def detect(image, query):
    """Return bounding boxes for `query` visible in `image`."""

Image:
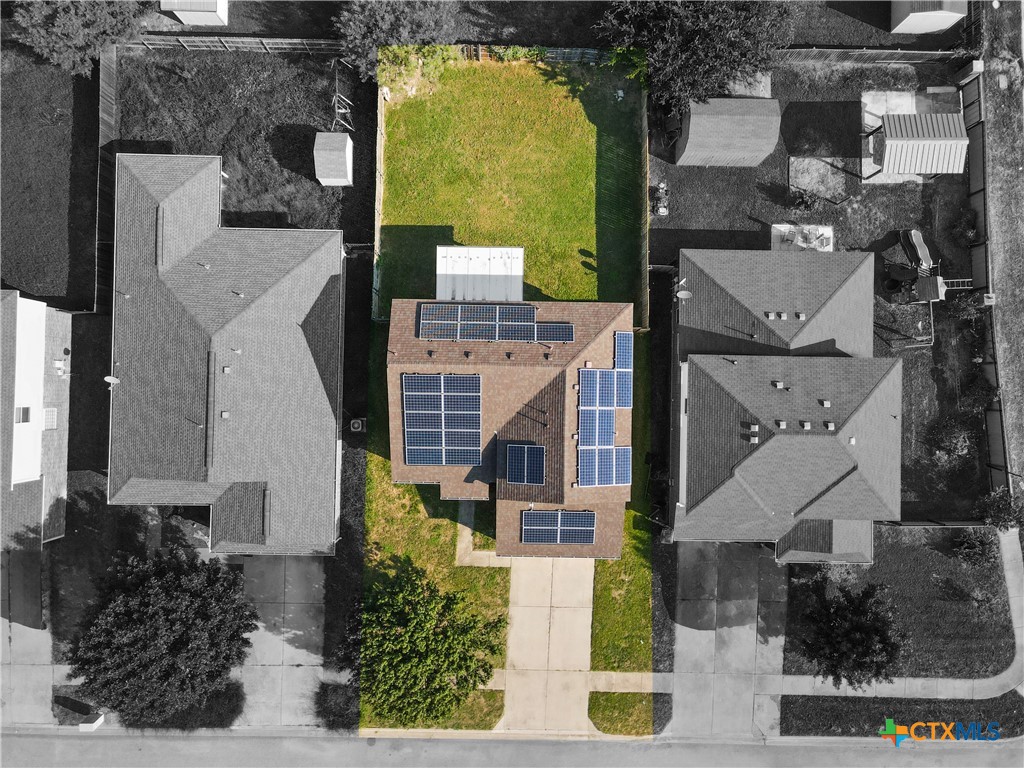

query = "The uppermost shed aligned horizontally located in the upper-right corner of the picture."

[893,0,965,31]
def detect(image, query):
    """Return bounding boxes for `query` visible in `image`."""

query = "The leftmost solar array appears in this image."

[400,375,483,468]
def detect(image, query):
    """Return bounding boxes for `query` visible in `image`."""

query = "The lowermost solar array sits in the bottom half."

[519,512,597,546]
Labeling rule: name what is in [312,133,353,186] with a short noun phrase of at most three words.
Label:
shed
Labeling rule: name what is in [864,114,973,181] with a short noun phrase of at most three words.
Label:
building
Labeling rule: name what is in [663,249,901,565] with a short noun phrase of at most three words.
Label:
house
